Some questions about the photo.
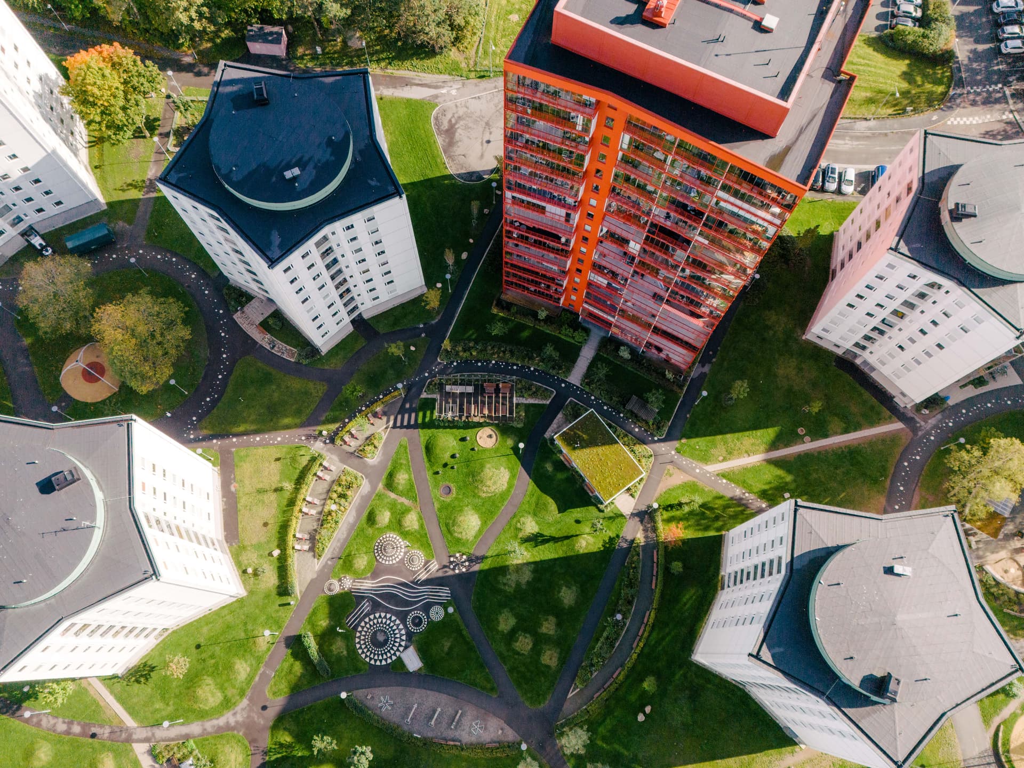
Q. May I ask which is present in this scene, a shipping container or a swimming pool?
shipping container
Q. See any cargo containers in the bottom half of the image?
No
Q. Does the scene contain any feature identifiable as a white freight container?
No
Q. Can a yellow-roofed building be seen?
Yes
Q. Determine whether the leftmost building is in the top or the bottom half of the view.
top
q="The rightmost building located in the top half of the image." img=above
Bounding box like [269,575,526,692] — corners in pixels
[808,131,1024,405]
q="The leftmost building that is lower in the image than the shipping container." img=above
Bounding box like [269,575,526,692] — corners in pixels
[0,418,239,673]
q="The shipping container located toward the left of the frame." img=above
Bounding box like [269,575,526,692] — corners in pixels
[60,221,116,254]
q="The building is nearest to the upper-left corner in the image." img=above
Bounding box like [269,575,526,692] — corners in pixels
[0,0,106,260]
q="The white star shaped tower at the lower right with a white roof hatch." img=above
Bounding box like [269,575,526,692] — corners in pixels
[696,501,1022,767]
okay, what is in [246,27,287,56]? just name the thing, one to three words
shed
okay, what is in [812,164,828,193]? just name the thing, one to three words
car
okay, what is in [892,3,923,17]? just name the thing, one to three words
car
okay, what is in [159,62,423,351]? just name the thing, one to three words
building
